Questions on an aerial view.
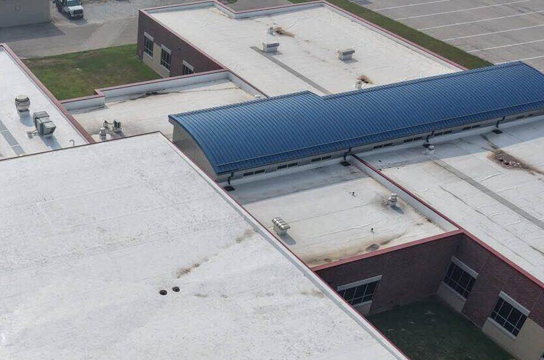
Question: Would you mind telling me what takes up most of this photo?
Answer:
buildings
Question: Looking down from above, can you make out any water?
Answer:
No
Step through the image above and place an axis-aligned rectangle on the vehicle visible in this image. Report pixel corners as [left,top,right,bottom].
[56,0,83,14]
